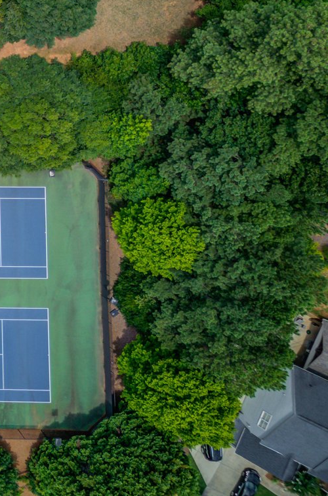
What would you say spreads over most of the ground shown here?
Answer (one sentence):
Most of the picture is covered by trees.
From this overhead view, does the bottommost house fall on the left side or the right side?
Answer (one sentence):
The bottommost house is on the right side of the image.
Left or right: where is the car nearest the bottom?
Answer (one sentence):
The car nearest the bottom appears in the right half of the scene.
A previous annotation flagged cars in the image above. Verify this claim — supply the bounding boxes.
[199,427,224,462]
[227,464,258,496]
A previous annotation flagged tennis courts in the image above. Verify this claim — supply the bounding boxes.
[0,307,50,403]
[0,187,47,279]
